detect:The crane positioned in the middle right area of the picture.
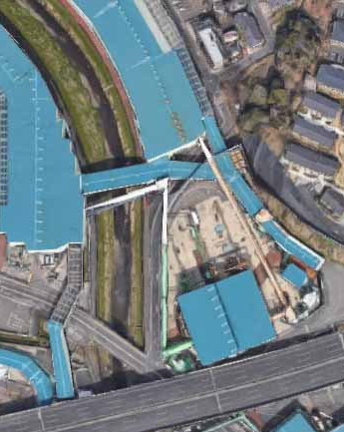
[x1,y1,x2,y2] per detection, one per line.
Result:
[199,139,302,324]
